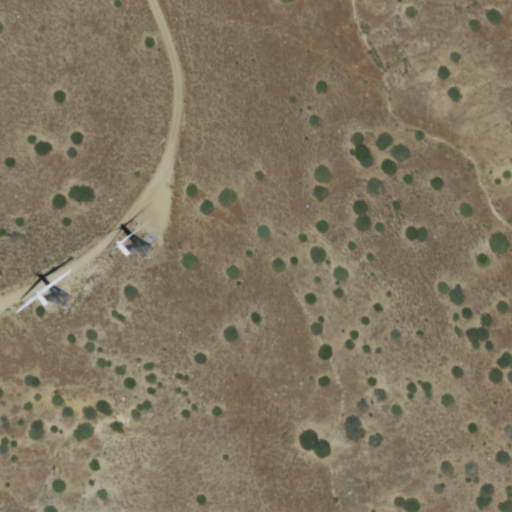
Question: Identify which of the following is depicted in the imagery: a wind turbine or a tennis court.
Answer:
wind turbine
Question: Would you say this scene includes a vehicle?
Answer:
No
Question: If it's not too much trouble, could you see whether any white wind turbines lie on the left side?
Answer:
Yes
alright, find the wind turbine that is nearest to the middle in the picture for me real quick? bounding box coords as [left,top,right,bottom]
[100,218,153,258]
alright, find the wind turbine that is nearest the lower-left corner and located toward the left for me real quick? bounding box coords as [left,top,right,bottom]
[17,268,73,313]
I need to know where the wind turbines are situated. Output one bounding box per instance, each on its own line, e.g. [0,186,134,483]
[17,268,73,313]
[100,218,153,258]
